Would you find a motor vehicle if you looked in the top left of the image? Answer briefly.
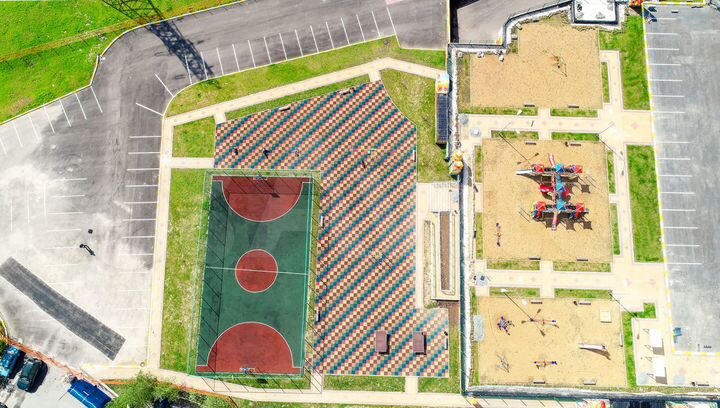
No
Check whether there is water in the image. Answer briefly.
No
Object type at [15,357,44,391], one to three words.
car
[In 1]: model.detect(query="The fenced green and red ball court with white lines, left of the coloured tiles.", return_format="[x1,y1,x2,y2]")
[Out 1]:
[197,174,314,376]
